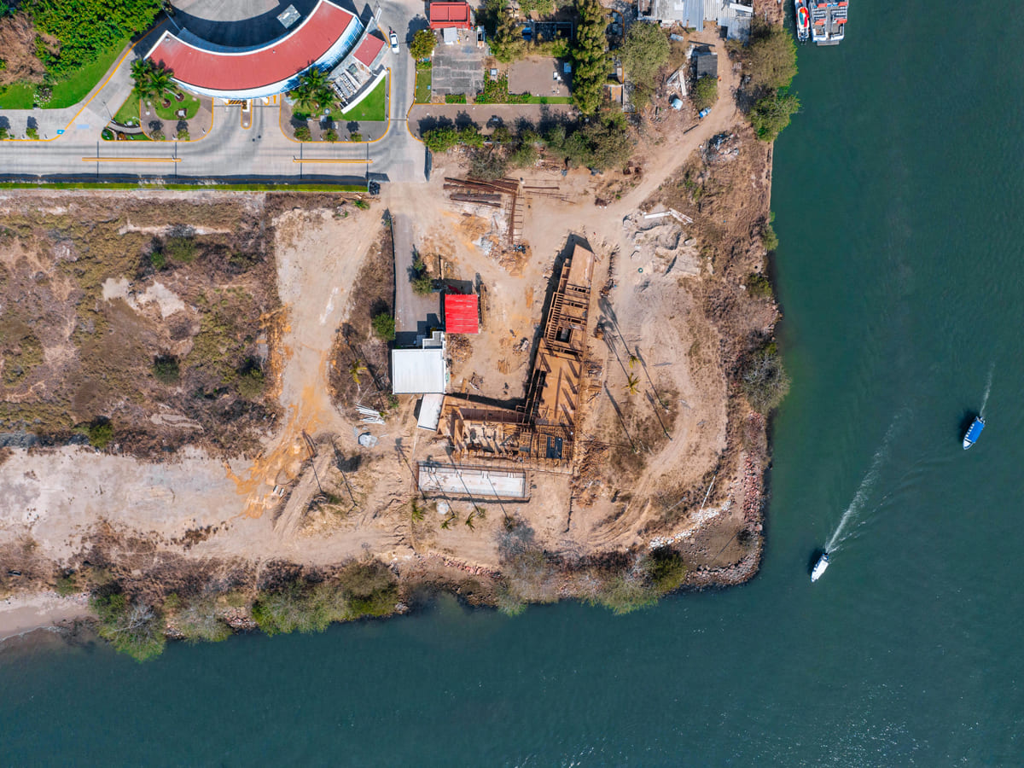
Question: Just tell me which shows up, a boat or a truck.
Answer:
boat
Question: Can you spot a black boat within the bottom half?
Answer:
No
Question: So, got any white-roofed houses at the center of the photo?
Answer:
Yes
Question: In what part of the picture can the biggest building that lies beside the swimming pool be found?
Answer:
center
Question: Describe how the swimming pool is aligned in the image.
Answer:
from left to right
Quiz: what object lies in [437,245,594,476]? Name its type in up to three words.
building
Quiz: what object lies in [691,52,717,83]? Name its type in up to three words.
shed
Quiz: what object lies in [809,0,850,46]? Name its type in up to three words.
boat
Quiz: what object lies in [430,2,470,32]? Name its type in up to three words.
house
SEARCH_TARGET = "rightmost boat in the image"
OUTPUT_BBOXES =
[963,416,985,450]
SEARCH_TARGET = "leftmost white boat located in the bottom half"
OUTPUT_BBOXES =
[811,552,832,583]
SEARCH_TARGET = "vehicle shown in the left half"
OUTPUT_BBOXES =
[389,31,401,53]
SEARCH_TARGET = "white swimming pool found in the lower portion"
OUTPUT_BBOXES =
[418,462,531,500]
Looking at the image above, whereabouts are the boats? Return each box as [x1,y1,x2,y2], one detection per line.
[811,552,832,583]
[809,0,850,46]
[795,0,811,43]
[963,416,985,450]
